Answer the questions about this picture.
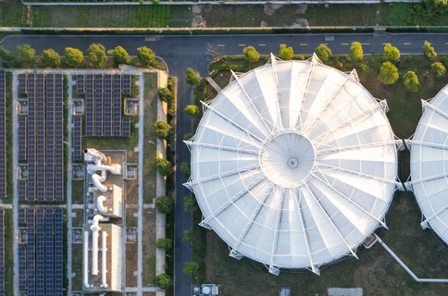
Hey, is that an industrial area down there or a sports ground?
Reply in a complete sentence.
What you see here is an industrial area.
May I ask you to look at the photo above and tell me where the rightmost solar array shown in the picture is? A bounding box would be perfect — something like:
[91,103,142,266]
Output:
[74,74,131,160]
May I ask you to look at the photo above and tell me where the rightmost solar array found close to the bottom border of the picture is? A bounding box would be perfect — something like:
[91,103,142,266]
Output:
[18,208,64,296]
